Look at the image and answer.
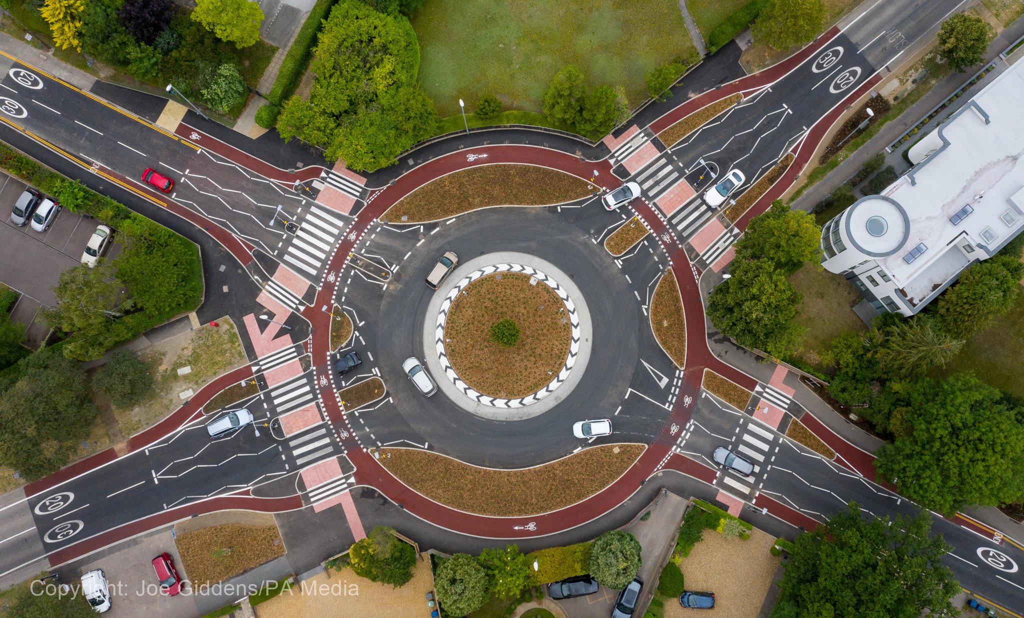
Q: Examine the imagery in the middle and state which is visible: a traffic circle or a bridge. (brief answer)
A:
traffic circle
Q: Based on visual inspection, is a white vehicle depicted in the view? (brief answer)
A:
Yes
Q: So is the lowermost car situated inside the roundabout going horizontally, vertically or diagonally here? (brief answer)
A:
horizontally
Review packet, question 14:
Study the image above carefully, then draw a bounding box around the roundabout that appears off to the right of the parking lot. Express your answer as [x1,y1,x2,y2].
[301,145,720,539]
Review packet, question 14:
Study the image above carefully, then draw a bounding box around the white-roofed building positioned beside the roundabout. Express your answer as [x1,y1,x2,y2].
[817,54,1024,318]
